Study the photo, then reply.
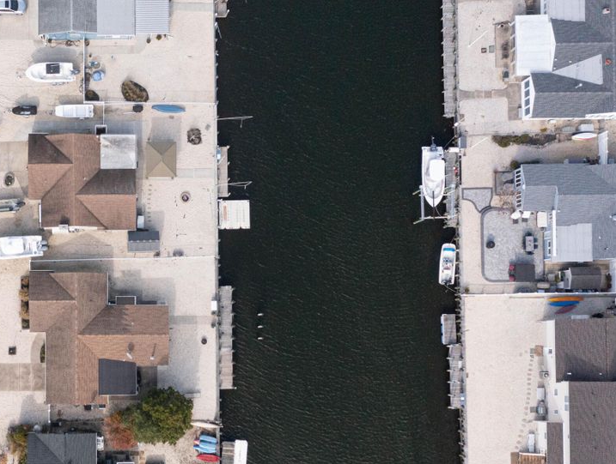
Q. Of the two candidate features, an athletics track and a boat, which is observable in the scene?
boat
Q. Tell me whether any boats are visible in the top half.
Yes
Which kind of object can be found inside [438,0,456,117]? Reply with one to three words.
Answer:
pier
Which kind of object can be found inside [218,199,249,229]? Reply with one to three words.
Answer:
pier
